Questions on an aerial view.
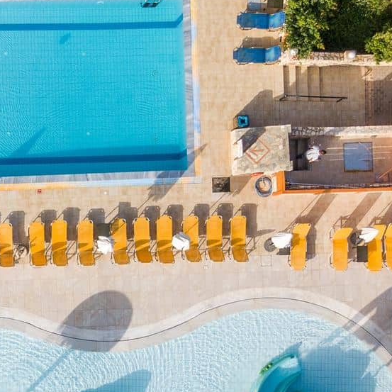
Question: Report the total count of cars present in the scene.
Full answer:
I count no cars.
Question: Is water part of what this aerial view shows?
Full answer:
Yes, the picture does contain water.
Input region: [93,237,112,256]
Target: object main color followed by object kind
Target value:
white umbrella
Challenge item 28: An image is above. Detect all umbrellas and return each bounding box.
[261,230,287,249]
[93,237,112,256]
[168,234,187,254]
[348,227,375,245]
